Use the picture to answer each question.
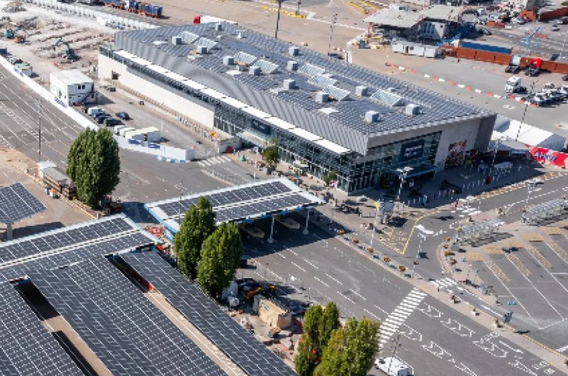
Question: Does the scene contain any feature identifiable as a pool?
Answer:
No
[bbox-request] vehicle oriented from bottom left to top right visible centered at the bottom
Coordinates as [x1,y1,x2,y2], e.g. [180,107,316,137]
[241,257,276,292]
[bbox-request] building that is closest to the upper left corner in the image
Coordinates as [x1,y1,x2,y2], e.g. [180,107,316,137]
[39,68,98,107]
